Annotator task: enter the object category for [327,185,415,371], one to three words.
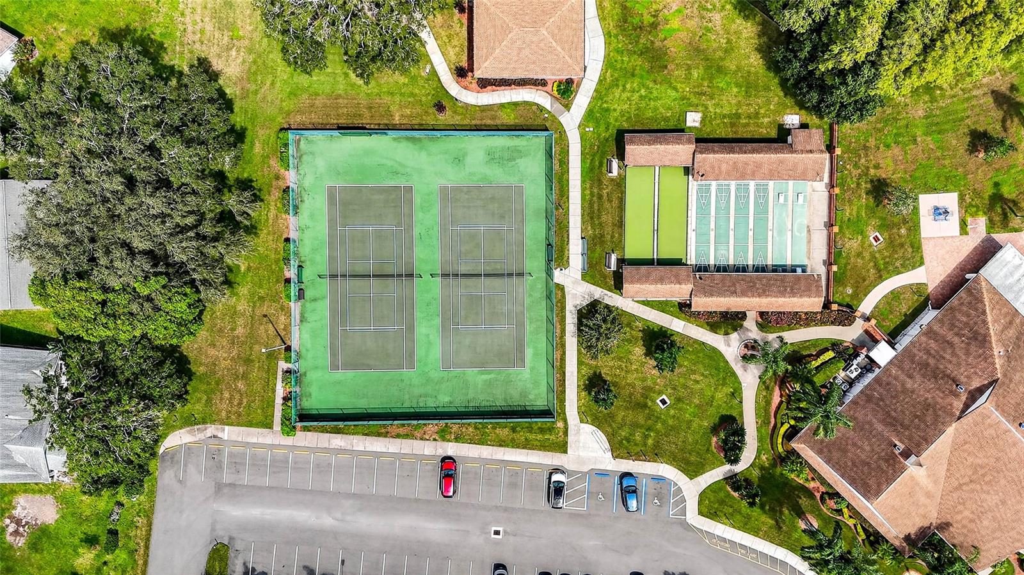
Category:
tennis court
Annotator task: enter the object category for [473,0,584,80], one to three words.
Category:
building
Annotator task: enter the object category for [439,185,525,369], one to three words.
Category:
tennis court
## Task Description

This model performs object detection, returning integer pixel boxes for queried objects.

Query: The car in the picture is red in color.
[440,458,458,495]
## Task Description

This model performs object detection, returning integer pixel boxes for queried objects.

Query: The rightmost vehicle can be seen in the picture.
[619,474,637,511]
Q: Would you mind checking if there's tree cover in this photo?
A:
Yes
